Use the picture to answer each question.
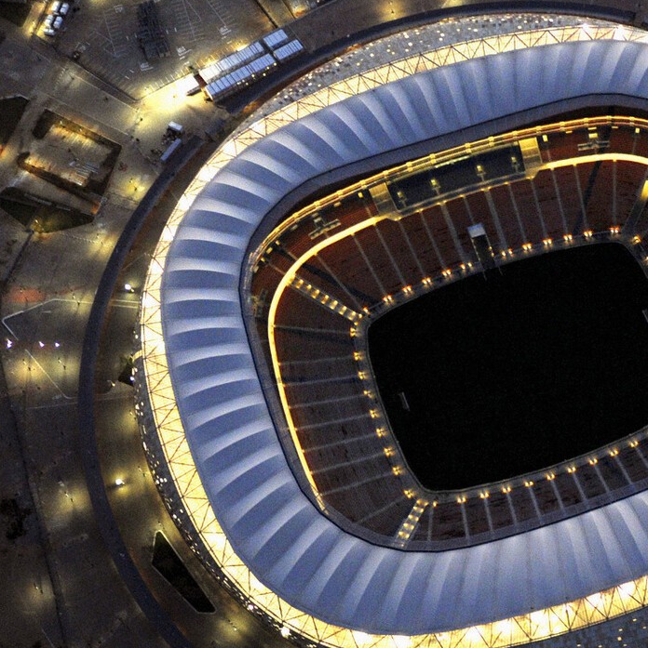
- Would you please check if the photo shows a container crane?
No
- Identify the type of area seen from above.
sports ground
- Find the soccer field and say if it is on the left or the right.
right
